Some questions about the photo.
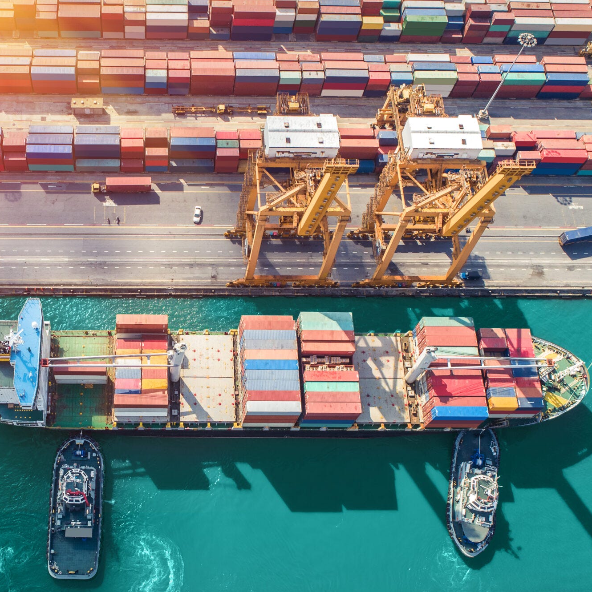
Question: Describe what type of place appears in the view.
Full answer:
This looks like a port.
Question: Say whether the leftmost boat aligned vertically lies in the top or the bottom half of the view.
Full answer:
You can find the leftmost boat aligned vertically in the bottom half.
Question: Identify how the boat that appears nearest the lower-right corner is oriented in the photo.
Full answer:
In this picture, the boat that appears nearest the lower-right corner lies from top to bottom.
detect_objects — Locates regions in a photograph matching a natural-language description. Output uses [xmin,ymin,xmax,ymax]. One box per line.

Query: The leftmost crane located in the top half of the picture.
[221,80,364,288]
